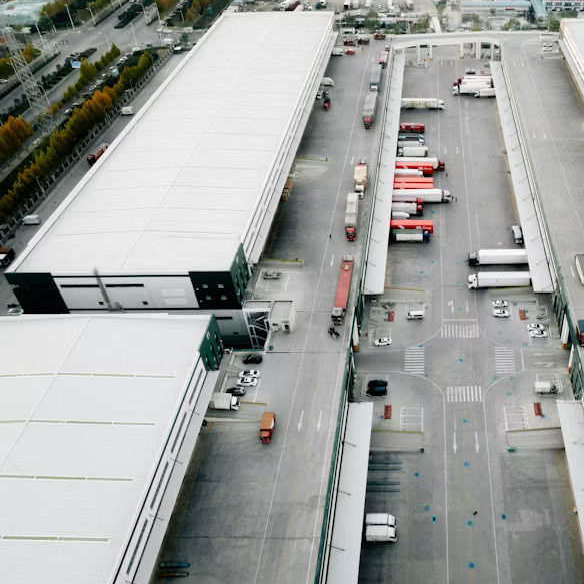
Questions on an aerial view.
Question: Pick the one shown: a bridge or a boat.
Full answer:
There is a bridge in the scene.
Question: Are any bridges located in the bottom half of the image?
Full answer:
No, there is no bridge in the bottom half of the image.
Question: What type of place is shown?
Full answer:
It's an industrial area.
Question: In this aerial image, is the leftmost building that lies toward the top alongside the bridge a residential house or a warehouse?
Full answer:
The leftmost building that lies toward the top alongside the bridge in the image is a warehouse.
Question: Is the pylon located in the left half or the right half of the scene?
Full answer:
The pylon is on the left side of the image.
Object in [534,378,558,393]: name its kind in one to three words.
vehicle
